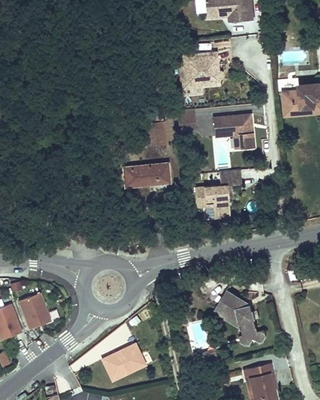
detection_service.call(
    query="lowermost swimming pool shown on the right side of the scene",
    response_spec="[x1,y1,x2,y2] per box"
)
[188,320,208,350]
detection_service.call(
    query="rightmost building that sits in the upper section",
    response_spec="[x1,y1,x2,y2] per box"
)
[282,82,320,118]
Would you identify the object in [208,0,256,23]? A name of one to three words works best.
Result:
house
